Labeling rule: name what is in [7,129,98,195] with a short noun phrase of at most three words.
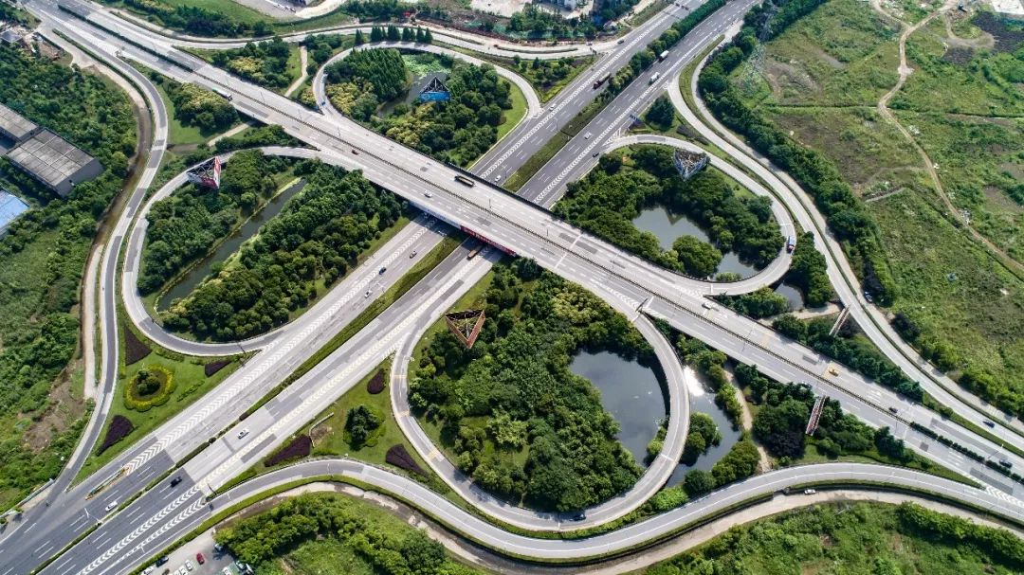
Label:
shed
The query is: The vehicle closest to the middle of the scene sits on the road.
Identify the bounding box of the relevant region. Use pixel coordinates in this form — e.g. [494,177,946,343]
[468,244,482,258]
